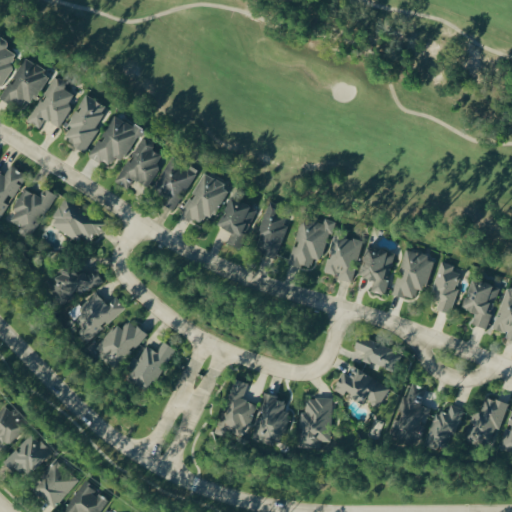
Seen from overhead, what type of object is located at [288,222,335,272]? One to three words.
house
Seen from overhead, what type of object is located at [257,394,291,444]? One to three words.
house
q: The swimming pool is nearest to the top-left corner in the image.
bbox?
[42,226,65,247]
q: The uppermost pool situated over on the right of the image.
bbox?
[371,230,402,254]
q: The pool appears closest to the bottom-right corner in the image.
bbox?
[347,398,371,424]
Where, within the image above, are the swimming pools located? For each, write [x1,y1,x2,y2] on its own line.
[347,398,371,424]
[371,230,402,254]
[42,226,65,247]
[460,272,470,297]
